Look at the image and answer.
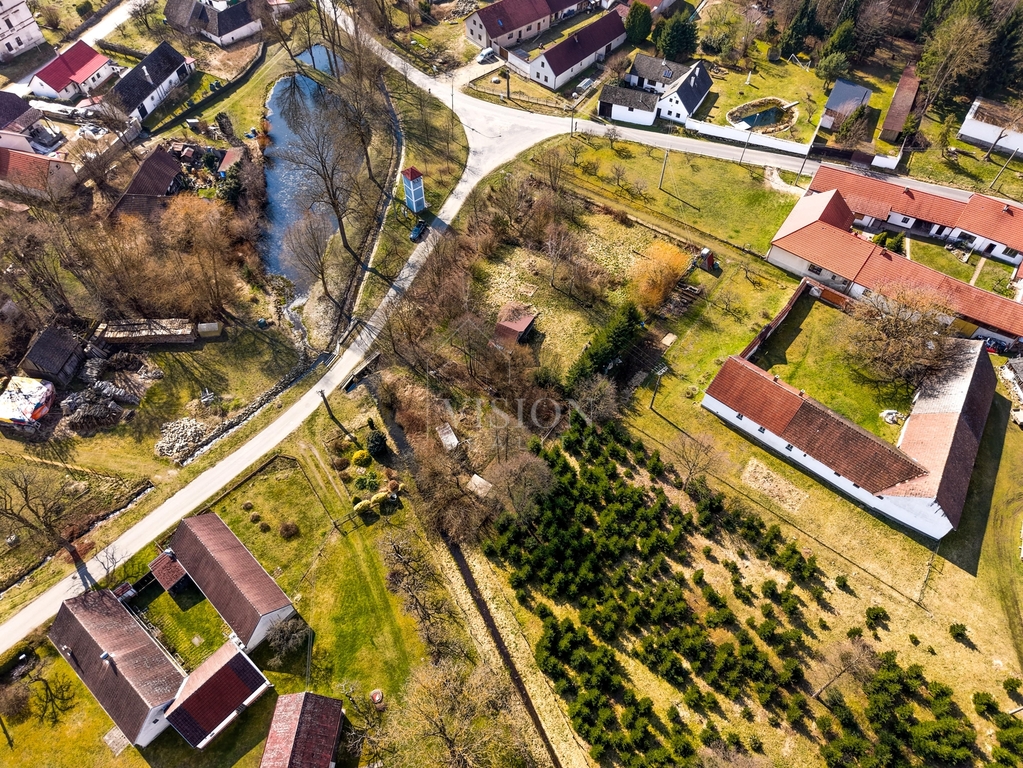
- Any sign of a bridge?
Yes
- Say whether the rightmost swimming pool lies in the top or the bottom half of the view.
top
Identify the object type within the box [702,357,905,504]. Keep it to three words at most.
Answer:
barn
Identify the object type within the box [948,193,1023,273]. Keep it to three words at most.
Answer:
house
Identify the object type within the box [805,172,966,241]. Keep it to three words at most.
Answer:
house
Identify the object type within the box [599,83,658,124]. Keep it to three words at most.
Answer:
shed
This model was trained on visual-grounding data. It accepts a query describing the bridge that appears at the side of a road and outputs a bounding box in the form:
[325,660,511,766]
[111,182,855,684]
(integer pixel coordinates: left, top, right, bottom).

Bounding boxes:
[324,317,379,387]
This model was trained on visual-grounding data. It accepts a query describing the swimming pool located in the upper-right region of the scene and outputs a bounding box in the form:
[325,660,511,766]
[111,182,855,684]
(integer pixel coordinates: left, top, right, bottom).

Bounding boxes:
[743,107,786,131]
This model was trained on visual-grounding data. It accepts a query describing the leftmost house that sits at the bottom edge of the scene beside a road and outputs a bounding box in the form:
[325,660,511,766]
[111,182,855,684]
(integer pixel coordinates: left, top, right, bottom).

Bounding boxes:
[47,589,192,744]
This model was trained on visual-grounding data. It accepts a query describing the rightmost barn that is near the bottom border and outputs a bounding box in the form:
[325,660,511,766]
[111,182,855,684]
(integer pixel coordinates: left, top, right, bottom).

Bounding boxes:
[263,692,345,768]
